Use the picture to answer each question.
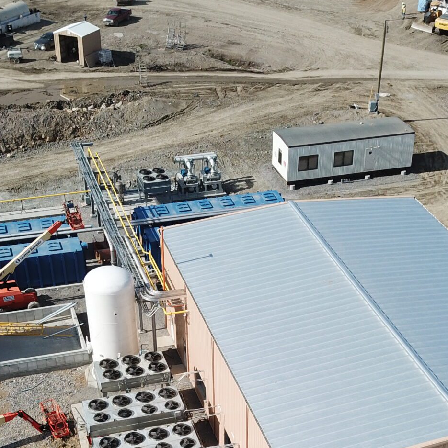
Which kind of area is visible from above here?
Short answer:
industrial area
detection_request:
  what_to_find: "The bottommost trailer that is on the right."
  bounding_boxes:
[277,120,416,183]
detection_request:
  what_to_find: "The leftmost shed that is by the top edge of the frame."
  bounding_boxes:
[52,17,104,66]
